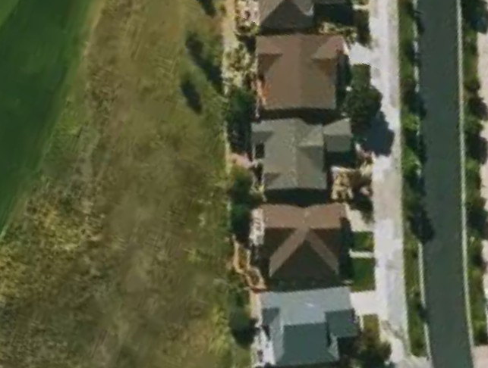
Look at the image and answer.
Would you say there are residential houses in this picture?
Yes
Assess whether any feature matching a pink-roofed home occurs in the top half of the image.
No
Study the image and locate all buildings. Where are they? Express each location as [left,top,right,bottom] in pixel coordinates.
[253,0,348,28]
[257,34,346,110]
[252,118,353,192]
[259,205,347,282]
[262,290,357,368]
